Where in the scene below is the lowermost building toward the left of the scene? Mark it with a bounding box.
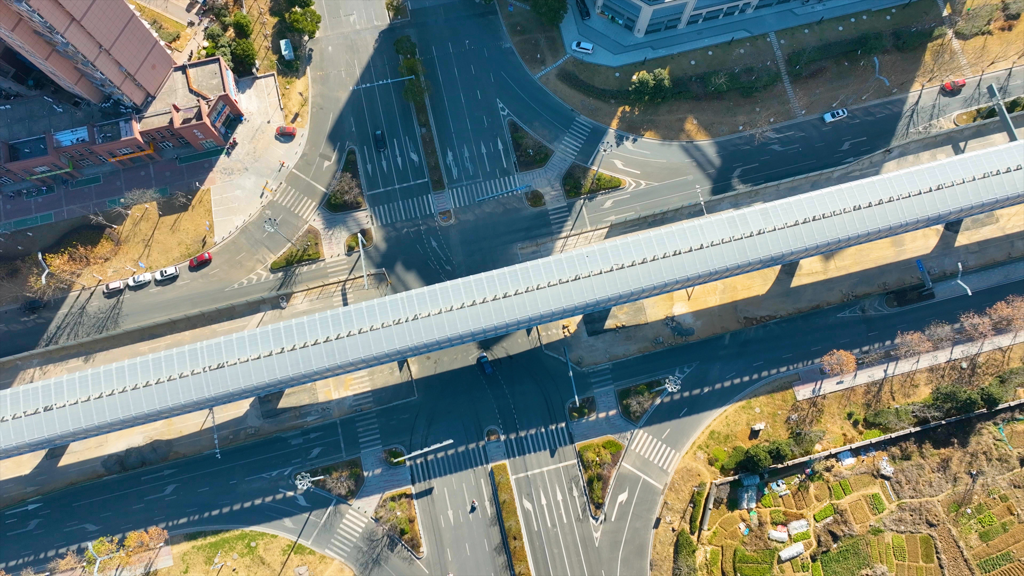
[0,55,256,202]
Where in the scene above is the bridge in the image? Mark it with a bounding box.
[0,135,1024,460]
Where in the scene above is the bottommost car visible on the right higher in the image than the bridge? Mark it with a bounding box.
[823,109,847,123]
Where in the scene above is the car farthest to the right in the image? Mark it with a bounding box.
[942,80,965,94]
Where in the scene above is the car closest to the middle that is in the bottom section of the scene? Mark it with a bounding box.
[478,351,494,375]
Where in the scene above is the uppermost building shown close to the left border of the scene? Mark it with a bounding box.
[0,0,174,108]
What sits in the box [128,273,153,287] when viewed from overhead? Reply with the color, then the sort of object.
white car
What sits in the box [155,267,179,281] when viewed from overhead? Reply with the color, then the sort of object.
white car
